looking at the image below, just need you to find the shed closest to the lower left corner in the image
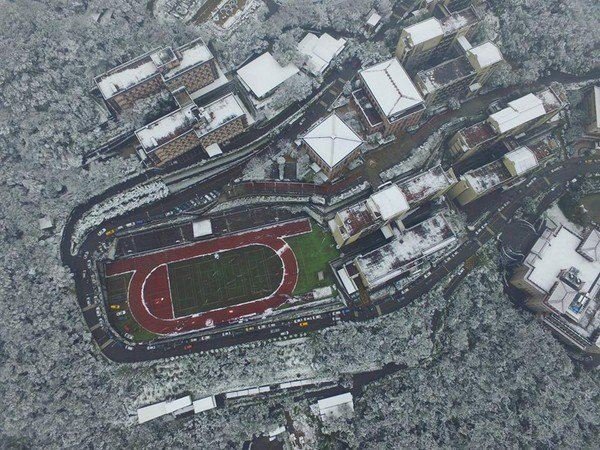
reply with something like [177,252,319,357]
[136,400,170,424]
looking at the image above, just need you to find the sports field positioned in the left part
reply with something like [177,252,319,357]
[168,244,283,317]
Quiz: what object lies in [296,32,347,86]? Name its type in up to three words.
building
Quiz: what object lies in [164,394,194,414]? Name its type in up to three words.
shed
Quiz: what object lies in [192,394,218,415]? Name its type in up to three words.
shed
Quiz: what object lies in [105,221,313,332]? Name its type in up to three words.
running track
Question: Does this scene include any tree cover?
Yes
